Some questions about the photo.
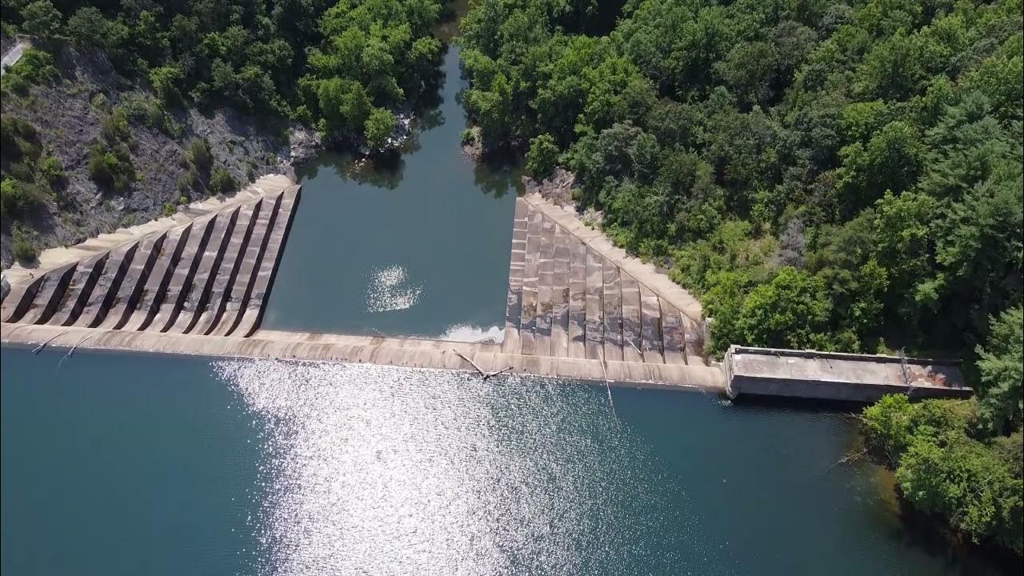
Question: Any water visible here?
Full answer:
Yes, there's water in this view.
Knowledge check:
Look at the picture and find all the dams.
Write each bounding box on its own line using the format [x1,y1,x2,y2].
[0,171,716,387]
